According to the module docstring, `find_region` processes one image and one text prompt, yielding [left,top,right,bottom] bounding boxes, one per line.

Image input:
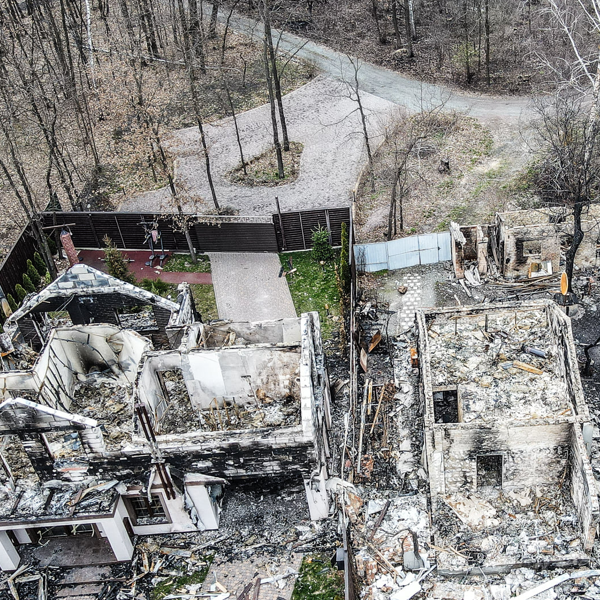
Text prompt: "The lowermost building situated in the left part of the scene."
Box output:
[0,255,347,594]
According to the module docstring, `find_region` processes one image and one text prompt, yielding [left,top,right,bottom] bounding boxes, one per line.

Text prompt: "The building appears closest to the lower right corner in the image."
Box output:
[415,300,598,570]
